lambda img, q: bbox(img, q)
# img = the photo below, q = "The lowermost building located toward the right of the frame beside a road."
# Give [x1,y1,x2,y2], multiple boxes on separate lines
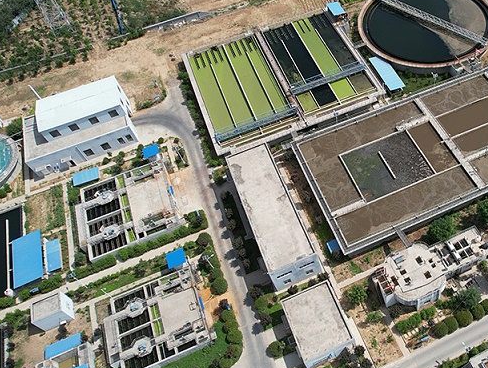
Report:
[281,280,359,368]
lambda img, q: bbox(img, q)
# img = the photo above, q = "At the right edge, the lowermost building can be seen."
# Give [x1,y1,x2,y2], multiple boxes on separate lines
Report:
[372,224,488,313]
